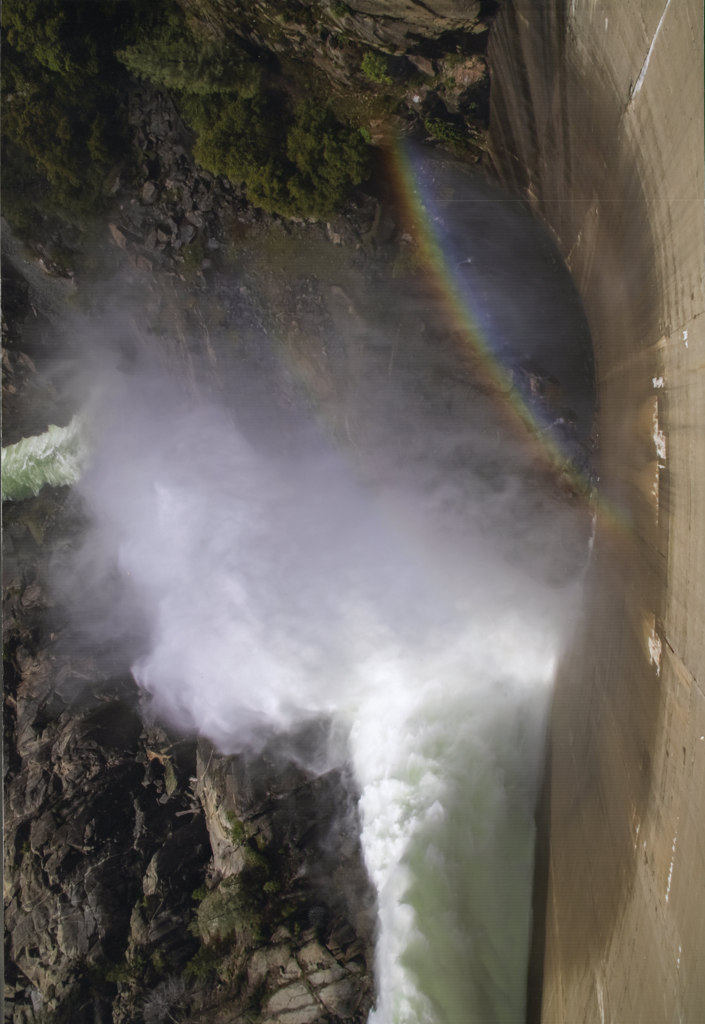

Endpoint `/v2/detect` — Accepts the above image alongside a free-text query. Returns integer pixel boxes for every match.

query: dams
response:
[462,0,705,1024]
